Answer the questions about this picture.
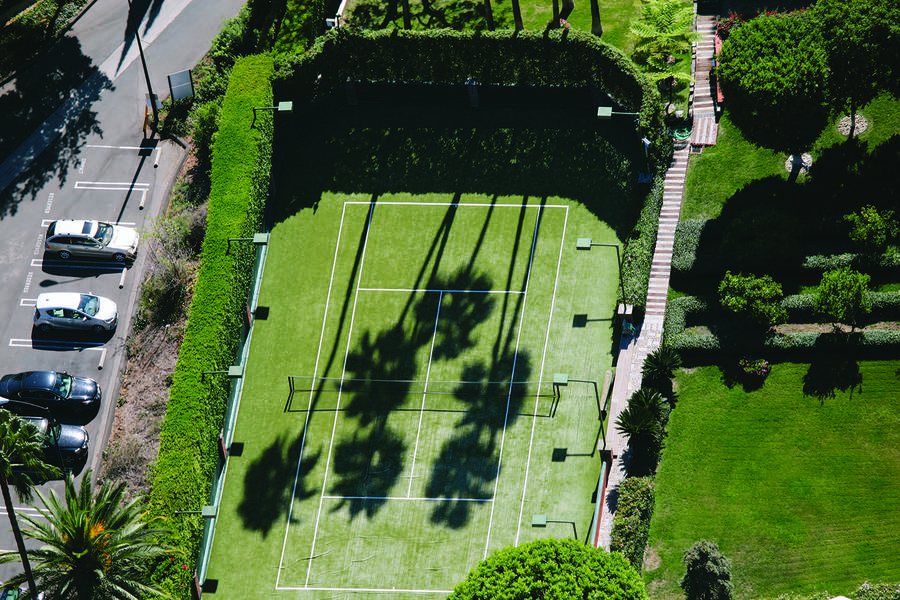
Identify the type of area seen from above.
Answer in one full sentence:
This looks like a sports ground.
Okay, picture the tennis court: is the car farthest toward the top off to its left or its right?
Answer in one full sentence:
It is on the left side of the tennis court that the car farthest toward the top is positioned.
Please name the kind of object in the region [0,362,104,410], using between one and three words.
car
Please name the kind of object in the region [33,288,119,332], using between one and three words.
car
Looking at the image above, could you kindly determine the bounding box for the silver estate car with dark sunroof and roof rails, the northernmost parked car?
[44,216,142,261]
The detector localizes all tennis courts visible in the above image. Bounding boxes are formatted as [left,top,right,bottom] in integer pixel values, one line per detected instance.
[204,102,635,600]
